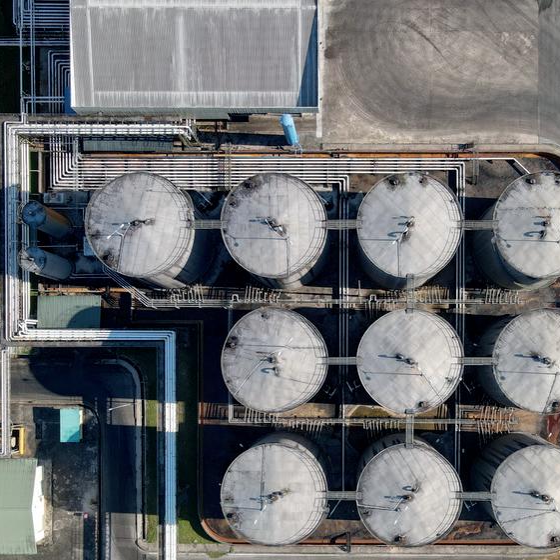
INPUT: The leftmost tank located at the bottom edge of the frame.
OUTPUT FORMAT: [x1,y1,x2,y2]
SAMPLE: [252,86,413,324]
[220,431,328,549]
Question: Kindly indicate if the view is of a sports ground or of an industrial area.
industrial area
